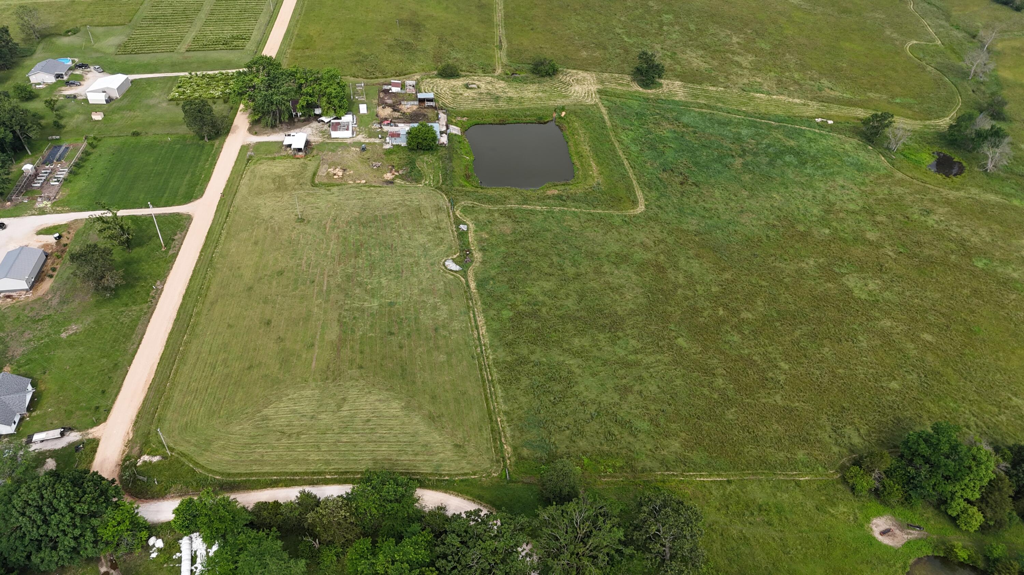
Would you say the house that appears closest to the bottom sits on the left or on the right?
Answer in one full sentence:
The house that appears closest to the bottom appears in the left half of the scene.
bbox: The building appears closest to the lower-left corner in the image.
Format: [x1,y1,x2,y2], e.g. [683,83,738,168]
[0,371,44,435]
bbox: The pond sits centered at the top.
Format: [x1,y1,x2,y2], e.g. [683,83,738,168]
[467,119,574,189]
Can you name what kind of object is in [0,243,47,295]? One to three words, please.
building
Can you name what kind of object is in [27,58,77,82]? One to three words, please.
house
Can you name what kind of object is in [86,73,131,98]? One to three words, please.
building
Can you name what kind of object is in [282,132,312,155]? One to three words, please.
barn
